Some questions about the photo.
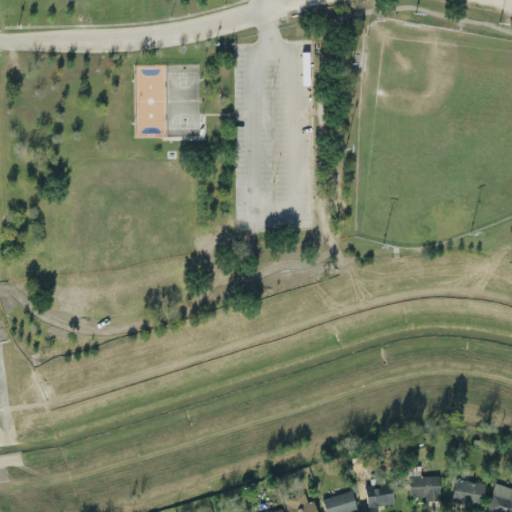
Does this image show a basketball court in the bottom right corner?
No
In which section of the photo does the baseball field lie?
top right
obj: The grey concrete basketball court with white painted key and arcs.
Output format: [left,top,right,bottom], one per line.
[167,65,200,138]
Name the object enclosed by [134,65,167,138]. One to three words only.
sports court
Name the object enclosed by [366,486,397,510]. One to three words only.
house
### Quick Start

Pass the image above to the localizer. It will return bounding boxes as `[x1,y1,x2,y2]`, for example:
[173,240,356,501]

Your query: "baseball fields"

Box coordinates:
[358,24,512,245]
